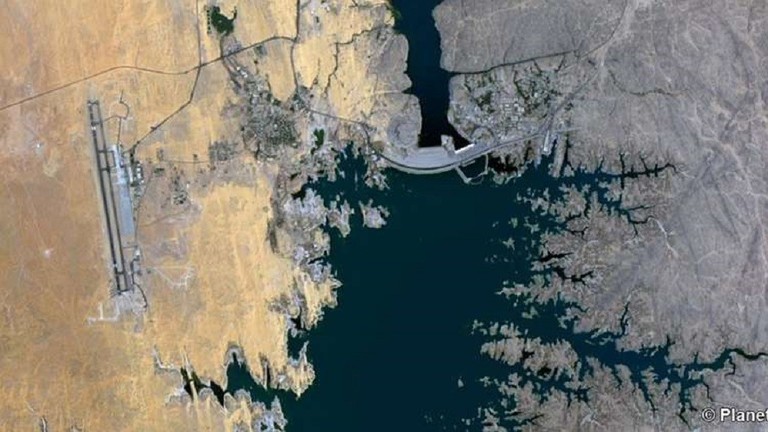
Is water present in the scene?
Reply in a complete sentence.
Yes, there's water in this view.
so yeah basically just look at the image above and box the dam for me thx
[365,143,490,175]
